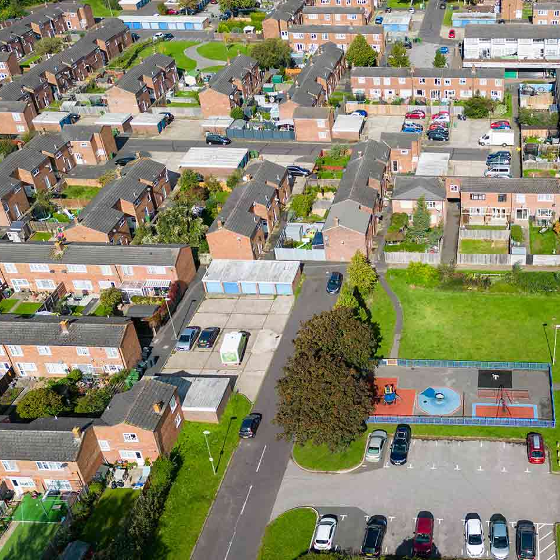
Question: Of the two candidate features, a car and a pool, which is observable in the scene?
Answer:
car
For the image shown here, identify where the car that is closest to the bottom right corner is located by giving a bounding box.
[515,519,538,560]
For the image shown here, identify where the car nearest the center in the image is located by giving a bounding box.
[325,270,344,295]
